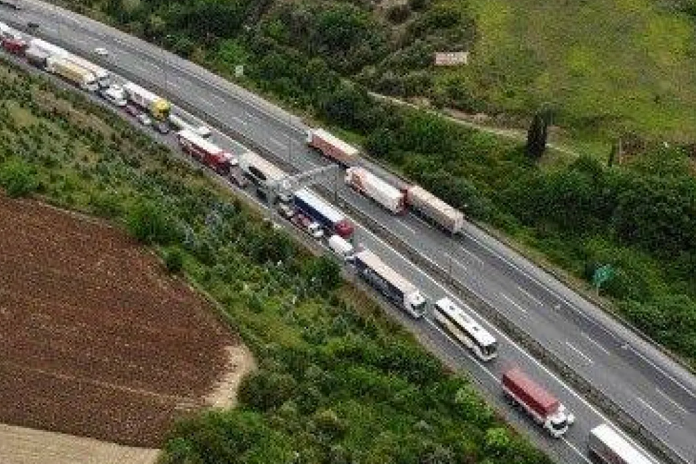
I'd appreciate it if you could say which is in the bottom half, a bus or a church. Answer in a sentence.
There is a bus in the bottom half.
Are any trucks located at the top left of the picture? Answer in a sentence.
Yes, you'll find a truck at the top left of the picture.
